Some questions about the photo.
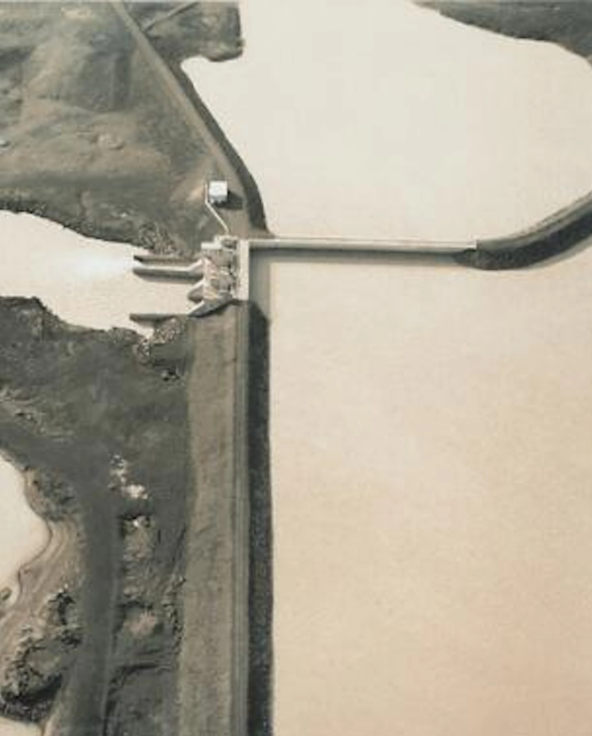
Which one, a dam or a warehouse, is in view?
dam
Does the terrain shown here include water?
Yes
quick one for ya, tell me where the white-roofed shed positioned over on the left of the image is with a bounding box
[207,186,229,207]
